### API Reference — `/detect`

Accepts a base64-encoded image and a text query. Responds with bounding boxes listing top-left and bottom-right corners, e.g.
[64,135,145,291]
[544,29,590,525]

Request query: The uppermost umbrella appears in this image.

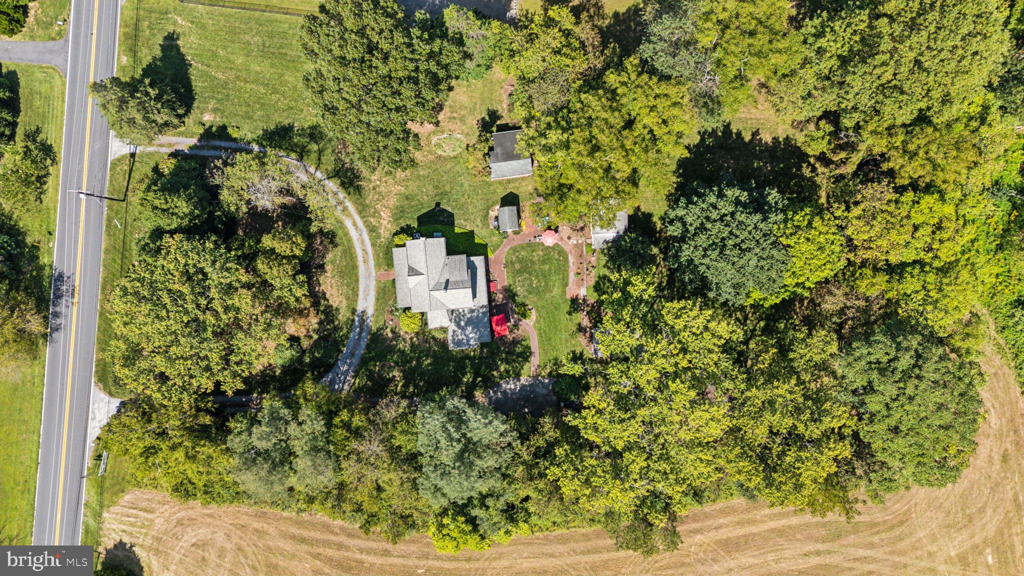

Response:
[542,230,558,246]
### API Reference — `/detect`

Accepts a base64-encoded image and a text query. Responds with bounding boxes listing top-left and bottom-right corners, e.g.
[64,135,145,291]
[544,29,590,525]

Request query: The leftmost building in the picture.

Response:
[392,235,491,349]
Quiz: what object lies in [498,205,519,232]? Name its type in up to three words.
shed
